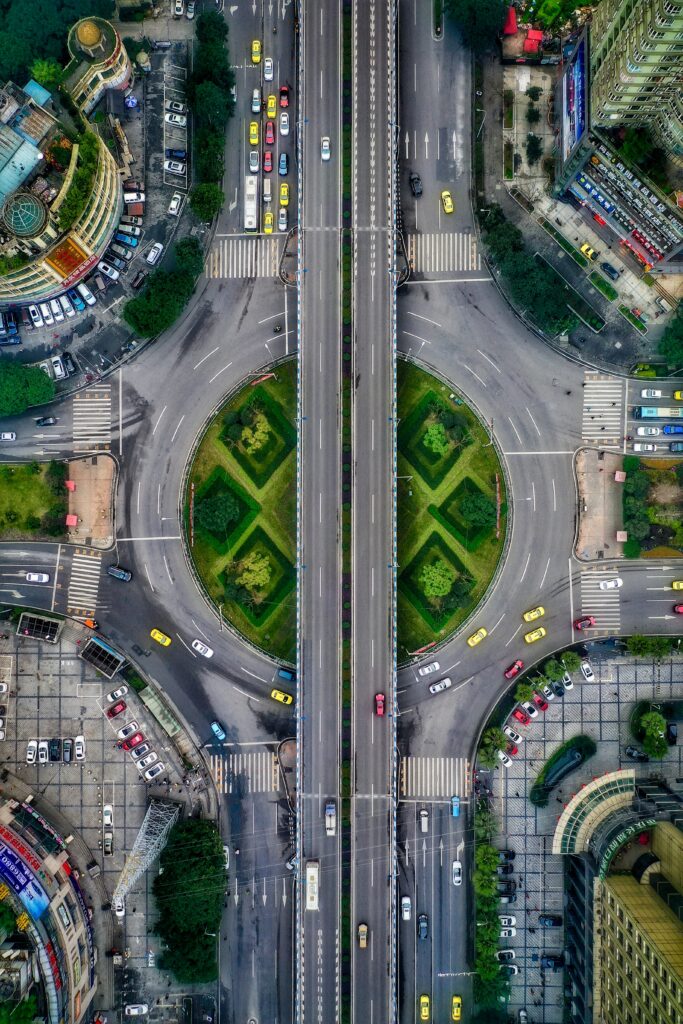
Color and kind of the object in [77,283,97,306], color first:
white car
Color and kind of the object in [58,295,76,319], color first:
white vehicle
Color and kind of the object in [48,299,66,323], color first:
white vehicle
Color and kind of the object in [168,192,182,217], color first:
white car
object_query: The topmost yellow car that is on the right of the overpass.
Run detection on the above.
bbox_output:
[441,191,453,215]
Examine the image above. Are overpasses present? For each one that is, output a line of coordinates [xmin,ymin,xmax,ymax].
[299,0,396,1024]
